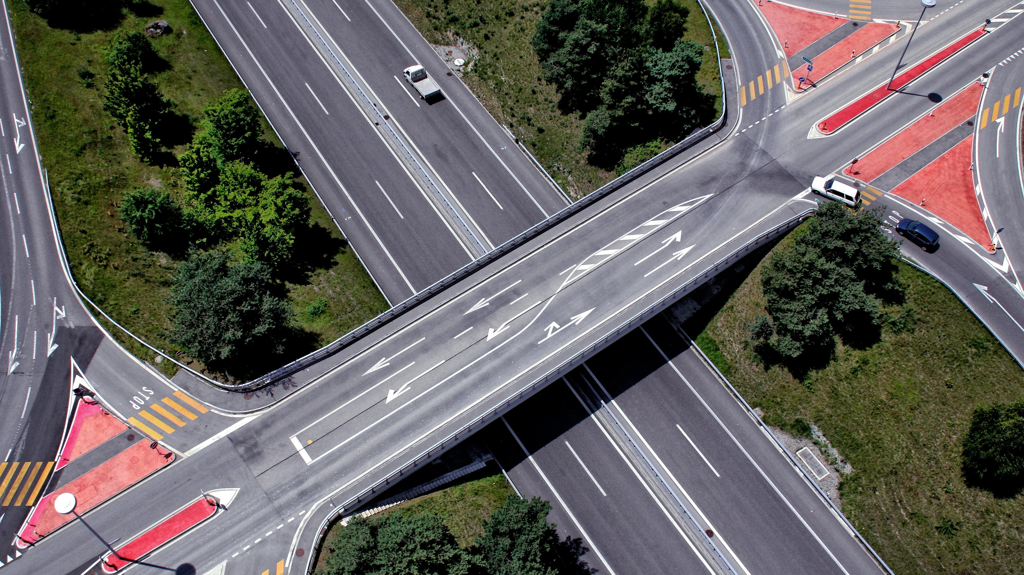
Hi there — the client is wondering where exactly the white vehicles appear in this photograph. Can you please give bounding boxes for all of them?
[403,65,441,101]
[809,176,859,206]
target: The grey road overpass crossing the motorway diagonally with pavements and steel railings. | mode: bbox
[169,58,849,575]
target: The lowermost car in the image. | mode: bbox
[896,218,944,254]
